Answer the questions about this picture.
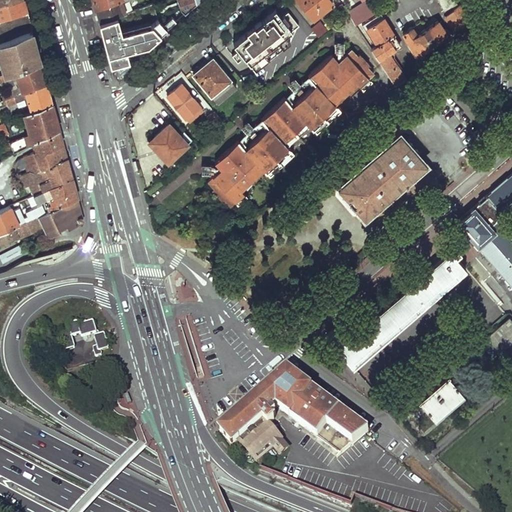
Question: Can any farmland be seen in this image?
No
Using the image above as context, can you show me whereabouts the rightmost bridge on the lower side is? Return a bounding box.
[150,428,234,512]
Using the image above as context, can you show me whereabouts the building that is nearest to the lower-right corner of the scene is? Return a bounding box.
[420,380,466,436]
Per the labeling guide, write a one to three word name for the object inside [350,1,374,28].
shed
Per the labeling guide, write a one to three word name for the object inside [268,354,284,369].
vehicle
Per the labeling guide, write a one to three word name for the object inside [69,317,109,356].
building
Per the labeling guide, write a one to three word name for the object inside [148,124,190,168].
house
